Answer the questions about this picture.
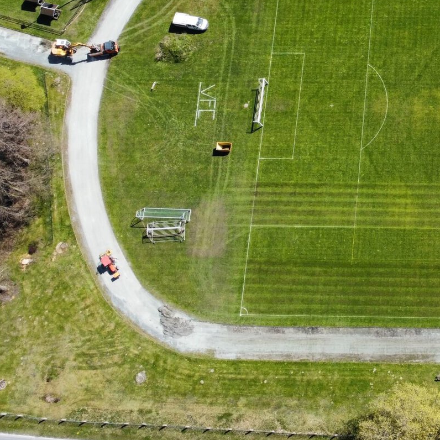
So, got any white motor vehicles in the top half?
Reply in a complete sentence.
Yes, a white motor vehicle is visible in the top half.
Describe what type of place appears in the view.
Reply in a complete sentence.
What you see here is a sports ground.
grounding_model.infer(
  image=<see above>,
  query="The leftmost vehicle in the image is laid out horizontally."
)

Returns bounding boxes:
[50,40,92,59]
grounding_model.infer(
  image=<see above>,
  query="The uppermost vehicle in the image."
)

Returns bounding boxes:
[172,13,208,32]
